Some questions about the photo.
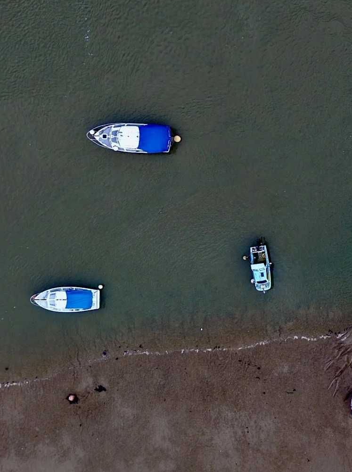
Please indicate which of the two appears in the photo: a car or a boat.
boat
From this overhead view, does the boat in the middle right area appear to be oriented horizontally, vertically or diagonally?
vertically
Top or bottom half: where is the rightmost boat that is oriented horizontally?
top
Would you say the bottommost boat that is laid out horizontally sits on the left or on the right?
left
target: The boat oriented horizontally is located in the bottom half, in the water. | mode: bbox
[30,287,102,313]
